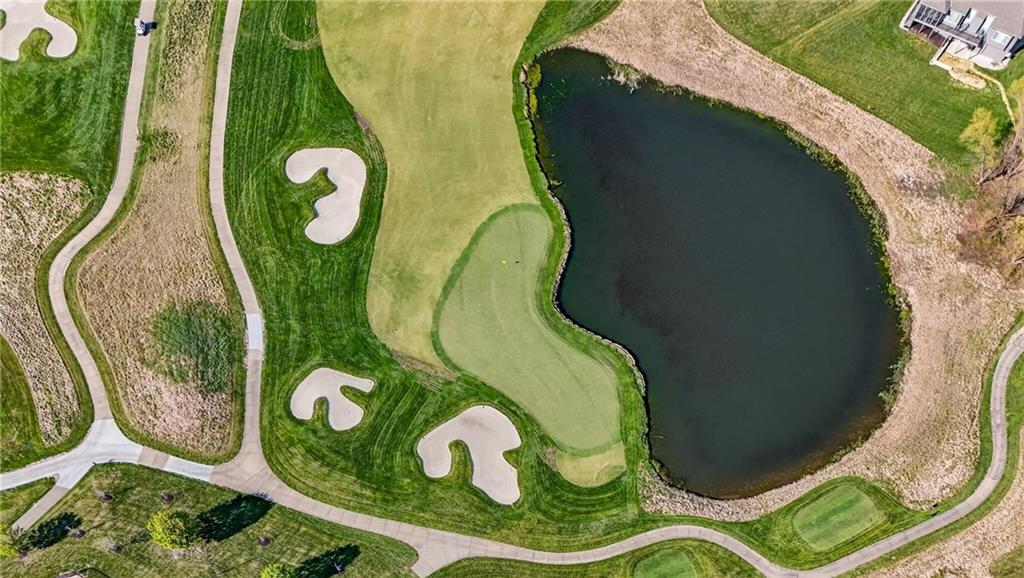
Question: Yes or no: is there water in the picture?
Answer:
Yes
